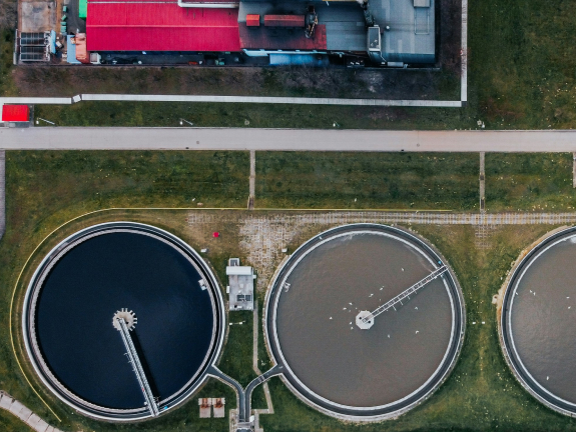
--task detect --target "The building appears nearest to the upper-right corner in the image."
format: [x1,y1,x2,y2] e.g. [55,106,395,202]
[358,0,435,67]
